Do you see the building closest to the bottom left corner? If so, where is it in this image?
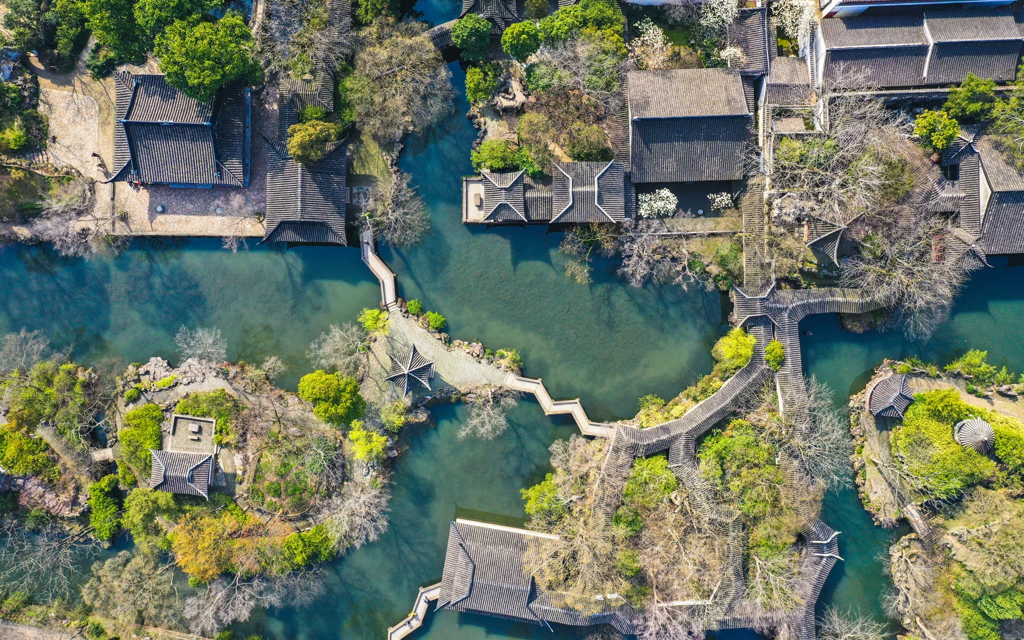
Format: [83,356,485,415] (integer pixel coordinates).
[141,446,223,501]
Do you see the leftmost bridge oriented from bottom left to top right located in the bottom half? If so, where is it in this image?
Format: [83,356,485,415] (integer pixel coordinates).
[385,582,439,640]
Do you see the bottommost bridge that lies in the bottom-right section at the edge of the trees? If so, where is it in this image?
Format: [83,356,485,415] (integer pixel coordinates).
[896,501,945,541]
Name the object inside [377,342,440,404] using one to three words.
building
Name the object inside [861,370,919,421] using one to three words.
building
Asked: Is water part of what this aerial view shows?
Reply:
Yes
